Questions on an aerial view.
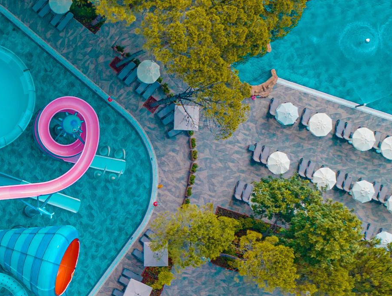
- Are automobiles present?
No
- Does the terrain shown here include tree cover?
Yes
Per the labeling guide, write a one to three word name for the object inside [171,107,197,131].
umbrella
